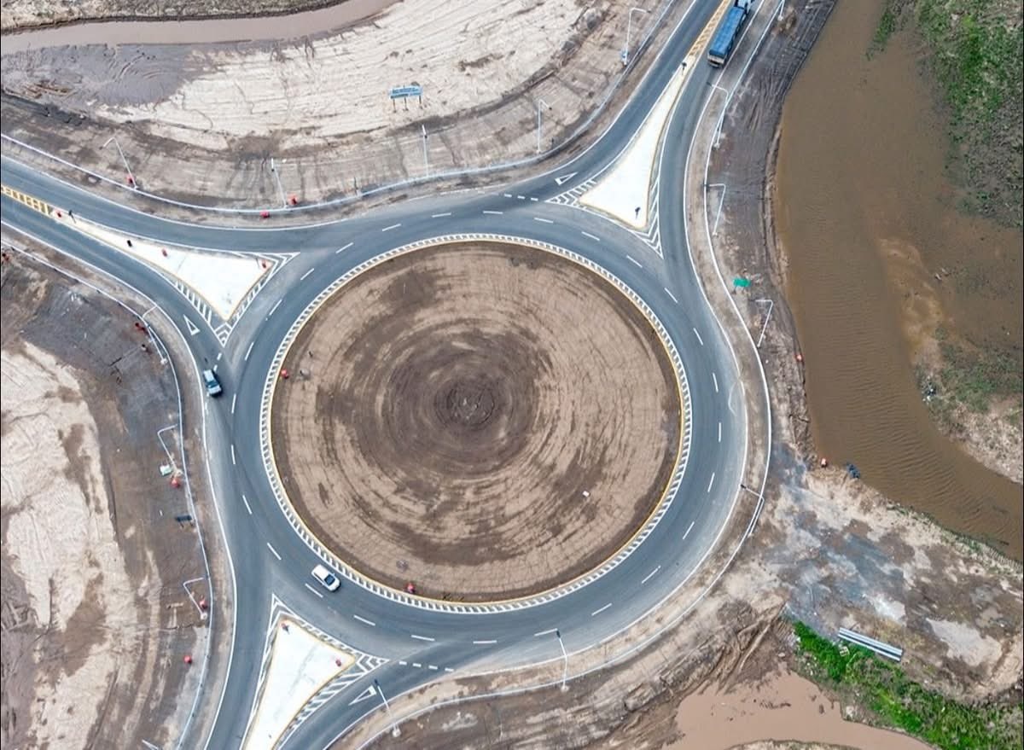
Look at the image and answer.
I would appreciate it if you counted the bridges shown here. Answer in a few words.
0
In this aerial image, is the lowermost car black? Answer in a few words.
No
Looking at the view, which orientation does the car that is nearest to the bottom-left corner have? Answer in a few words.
diagonally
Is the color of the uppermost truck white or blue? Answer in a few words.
blue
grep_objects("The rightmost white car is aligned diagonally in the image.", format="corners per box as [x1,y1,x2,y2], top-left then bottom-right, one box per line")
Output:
[311,563,339,590]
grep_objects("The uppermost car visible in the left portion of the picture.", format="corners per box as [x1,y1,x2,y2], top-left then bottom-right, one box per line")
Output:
[203,369,222,397]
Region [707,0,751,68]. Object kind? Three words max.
truck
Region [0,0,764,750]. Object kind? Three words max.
roundabout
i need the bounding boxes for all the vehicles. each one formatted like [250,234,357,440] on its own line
[311,563,339,590]
[707,0,751,68]
[203,369,222,397]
